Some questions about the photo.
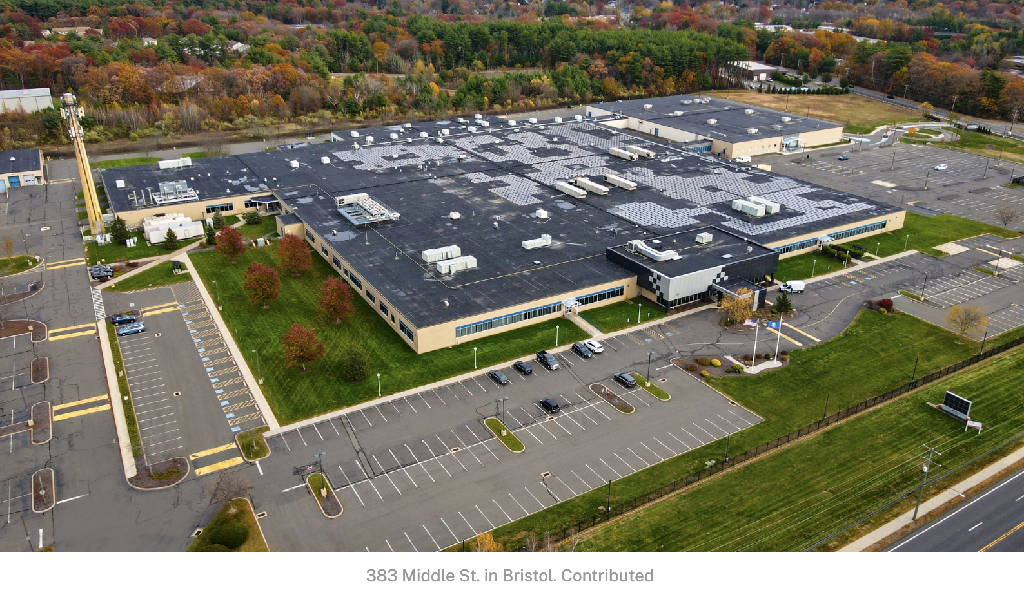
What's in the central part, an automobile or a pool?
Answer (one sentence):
What appears in the central part is an automobile.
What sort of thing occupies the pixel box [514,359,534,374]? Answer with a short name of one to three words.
car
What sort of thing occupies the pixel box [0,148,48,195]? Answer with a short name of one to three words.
building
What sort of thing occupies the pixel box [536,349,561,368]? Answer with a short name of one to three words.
vehicle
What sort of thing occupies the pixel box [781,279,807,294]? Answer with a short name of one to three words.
vehicle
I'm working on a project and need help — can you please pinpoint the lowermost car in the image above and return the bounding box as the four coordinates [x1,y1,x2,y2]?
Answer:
[540,396,561,412]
